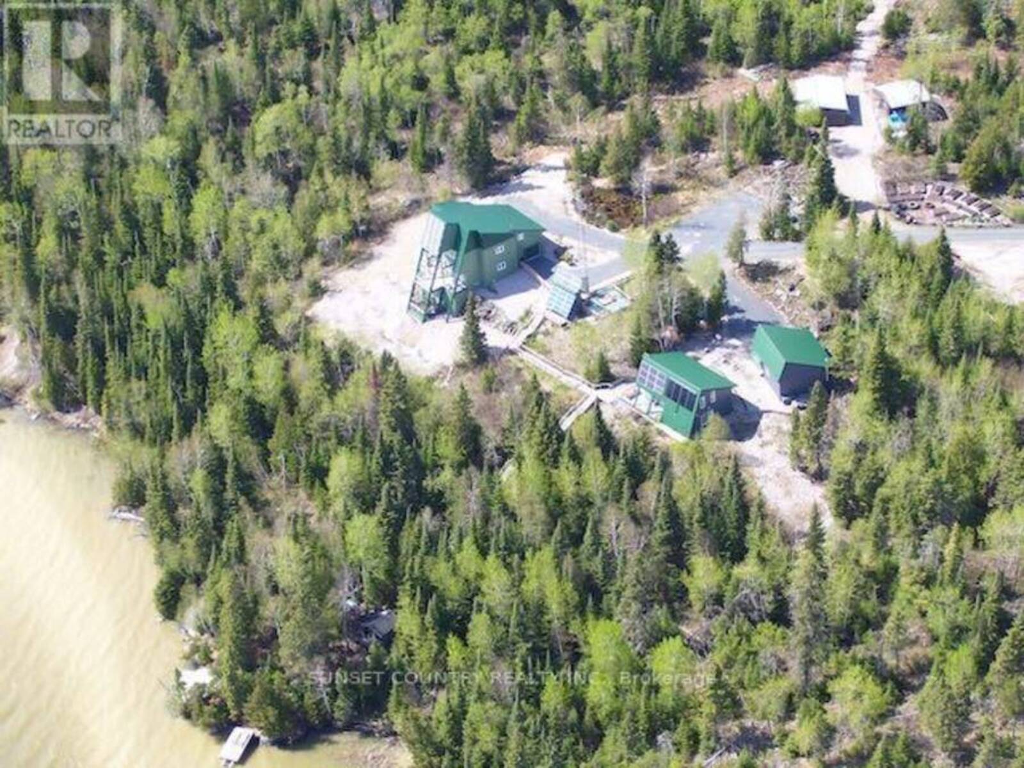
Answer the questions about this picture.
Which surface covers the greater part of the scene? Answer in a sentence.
The bulk of the photo consists of trees.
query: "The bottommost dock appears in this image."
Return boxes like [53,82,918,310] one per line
[219,728,253,768]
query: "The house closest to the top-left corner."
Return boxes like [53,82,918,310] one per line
[406,202,545,322]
